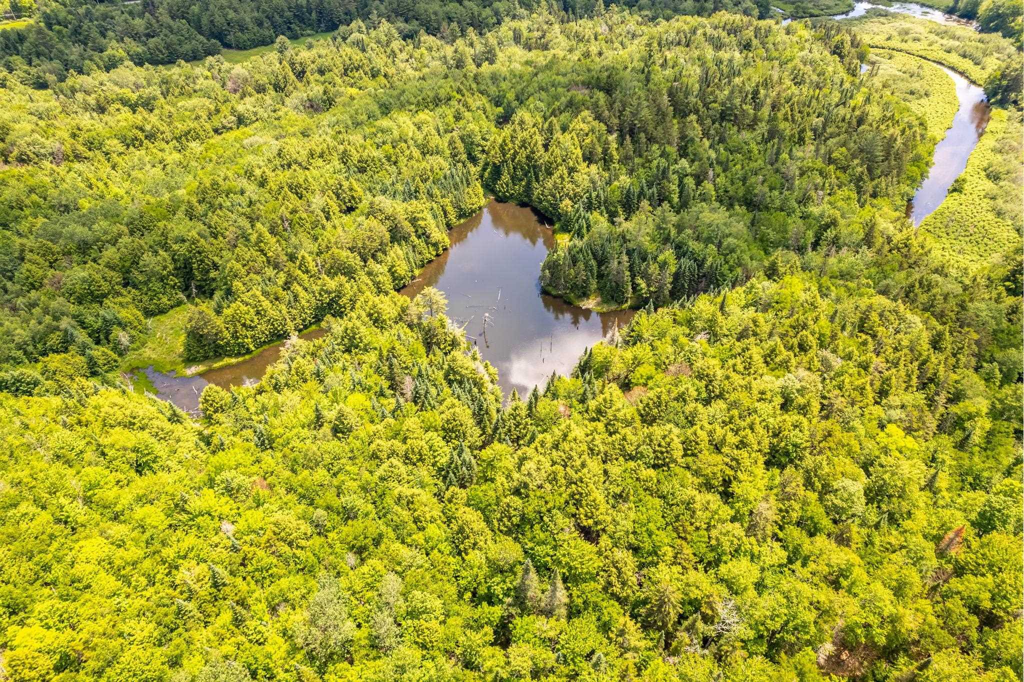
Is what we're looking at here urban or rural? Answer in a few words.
rural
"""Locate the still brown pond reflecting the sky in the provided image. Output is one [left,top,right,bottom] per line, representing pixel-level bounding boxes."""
[133,200,660,433]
